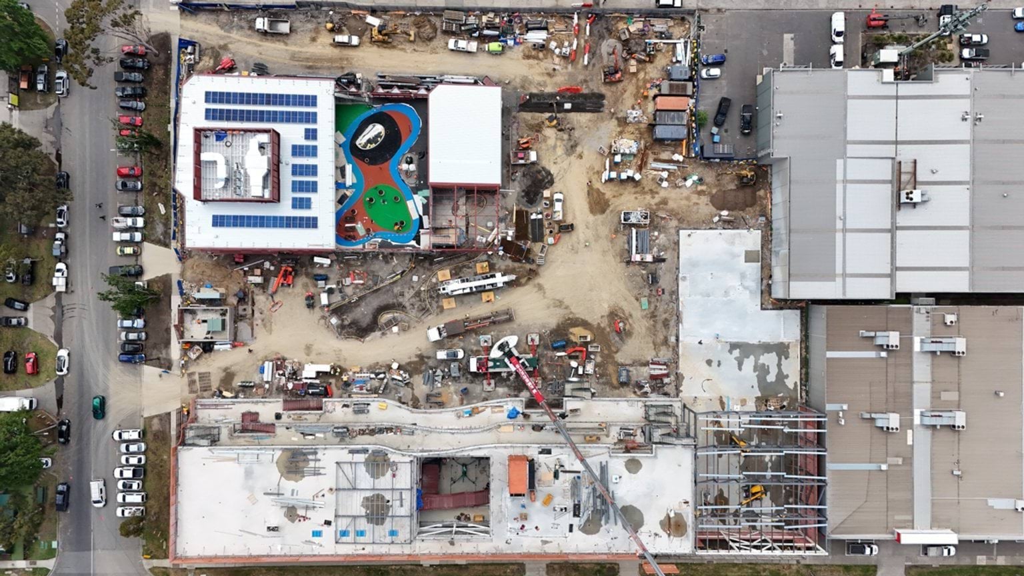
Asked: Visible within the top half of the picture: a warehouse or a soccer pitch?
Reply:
warehouse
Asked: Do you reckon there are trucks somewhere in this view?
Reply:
Yes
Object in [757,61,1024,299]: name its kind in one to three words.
warehouse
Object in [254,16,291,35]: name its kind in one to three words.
vehicle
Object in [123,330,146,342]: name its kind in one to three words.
vehicle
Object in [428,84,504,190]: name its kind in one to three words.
building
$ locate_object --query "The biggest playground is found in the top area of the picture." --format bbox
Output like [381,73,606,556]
[332,99,435,254]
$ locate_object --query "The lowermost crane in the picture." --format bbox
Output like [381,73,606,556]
[469,335,663,576]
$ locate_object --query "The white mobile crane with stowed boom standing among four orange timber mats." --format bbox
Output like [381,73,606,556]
[438,269,517,297]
